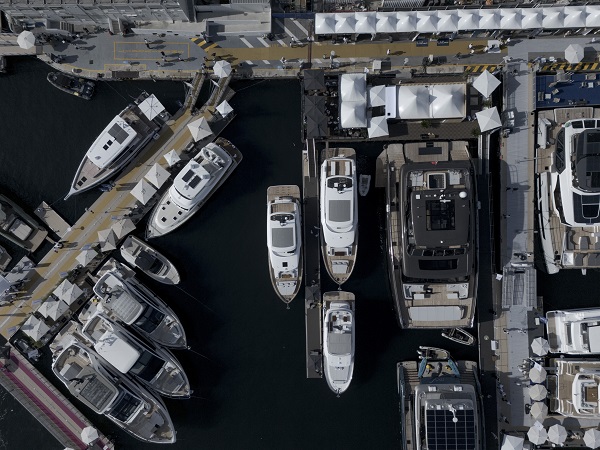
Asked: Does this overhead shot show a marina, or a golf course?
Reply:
marina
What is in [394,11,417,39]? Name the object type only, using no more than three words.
tent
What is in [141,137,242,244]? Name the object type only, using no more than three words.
boat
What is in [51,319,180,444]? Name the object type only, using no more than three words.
boat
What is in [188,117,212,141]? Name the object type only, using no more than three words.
umbrella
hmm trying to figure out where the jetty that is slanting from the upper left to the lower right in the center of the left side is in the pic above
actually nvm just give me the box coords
[35,201,72,238]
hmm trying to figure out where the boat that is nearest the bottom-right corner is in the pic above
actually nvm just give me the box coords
[546,361,600,418]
